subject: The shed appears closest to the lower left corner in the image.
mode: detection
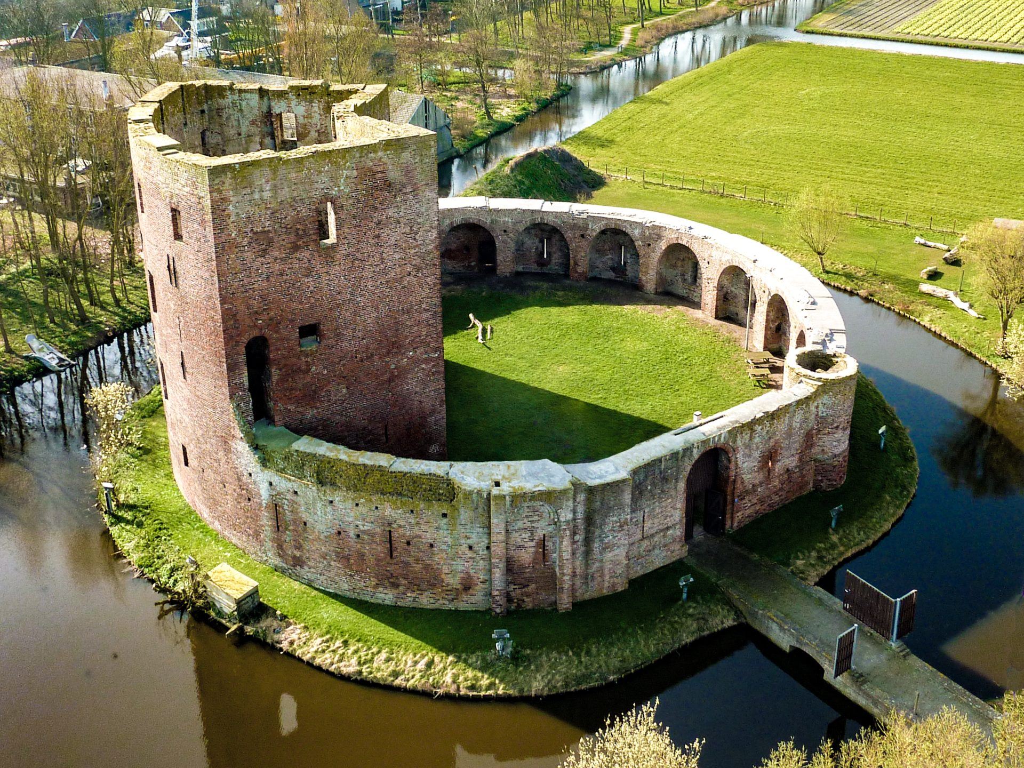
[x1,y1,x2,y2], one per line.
[205,563,258,621]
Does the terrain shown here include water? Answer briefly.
Yes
